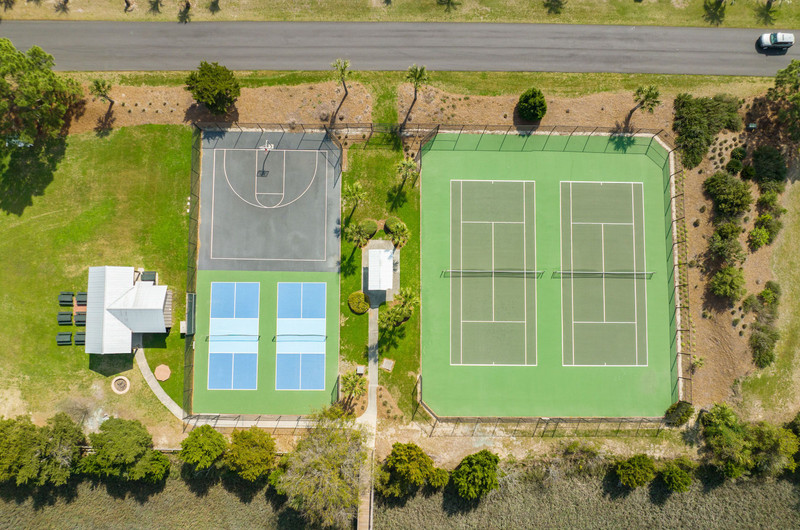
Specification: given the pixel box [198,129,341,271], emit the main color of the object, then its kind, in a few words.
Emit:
gray basketball court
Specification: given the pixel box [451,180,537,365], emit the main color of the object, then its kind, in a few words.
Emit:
green tennis court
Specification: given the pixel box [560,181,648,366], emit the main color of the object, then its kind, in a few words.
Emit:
green tennis court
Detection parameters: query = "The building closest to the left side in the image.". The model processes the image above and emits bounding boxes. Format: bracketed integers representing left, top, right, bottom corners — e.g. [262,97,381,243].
[85,266,173,354]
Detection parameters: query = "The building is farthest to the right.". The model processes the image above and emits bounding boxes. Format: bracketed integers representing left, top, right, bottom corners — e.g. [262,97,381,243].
[362,241,400,301]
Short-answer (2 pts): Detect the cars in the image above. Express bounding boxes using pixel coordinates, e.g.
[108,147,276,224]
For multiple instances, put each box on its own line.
[759,32,795,50]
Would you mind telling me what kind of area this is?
sports ground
